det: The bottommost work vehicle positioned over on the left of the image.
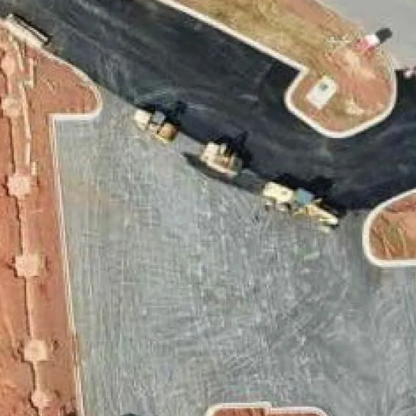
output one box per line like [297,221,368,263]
[137,108,181,146]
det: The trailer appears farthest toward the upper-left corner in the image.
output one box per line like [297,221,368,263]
[5,10,53,47]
